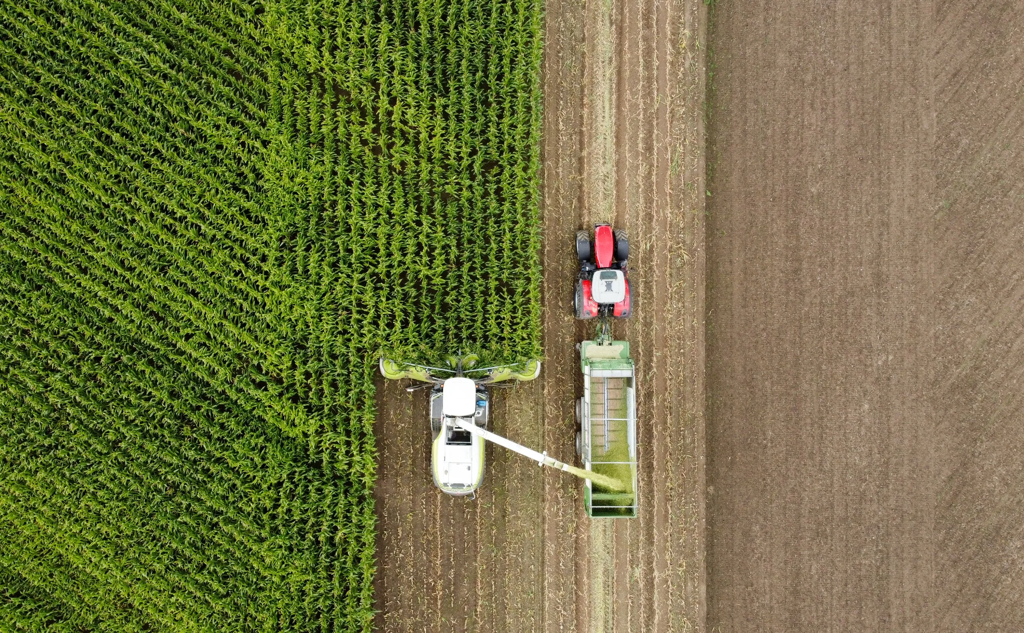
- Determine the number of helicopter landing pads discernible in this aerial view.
0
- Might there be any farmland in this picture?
Yes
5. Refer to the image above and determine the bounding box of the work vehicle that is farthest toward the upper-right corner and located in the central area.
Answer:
[573,223,637,320]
